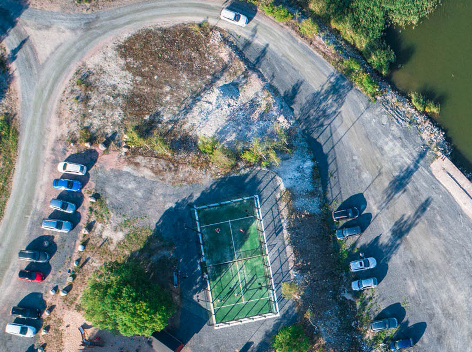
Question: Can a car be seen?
Yes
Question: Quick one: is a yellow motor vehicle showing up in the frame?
No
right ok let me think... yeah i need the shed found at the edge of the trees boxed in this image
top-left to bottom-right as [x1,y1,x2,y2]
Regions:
[148,327,185,352]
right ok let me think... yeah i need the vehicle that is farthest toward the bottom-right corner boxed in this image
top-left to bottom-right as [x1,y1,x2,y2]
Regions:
[389,337,415,351]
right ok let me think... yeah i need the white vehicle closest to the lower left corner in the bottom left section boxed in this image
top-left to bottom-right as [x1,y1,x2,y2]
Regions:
[1,323,38,339]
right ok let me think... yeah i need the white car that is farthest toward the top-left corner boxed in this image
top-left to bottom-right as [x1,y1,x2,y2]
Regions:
[55,160,89,176]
